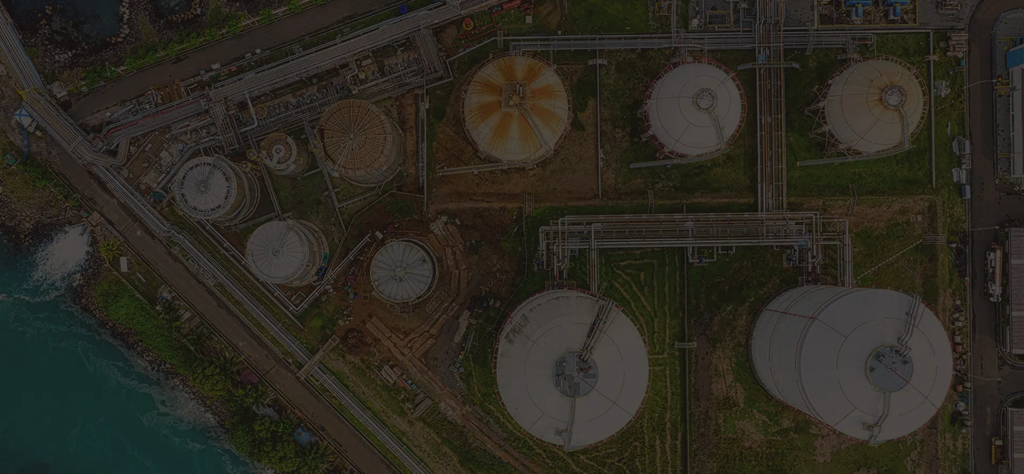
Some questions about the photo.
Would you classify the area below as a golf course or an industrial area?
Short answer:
industrial area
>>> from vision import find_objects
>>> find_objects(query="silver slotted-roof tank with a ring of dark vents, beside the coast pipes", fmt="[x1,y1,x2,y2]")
[174,154,260,224]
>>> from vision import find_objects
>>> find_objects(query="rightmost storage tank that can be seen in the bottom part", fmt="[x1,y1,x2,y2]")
[748,277,954,445]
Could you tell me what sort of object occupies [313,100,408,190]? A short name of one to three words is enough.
storage tank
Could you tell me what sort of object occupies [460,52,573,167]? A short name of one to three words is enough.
storage tank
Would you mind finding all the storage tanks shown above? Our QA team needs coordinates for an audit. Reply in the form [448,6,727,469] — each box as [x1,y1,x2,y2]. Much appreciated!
[260,134,312,176]
[637,57,747,163]
[495,283,650,452]
[246,219,329,287]
[174,154,260,224]
[803,51,928,162]
[369,238,437,310]
[460,52,573,167]
[748,277,954,445]
[313,100,408,190]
